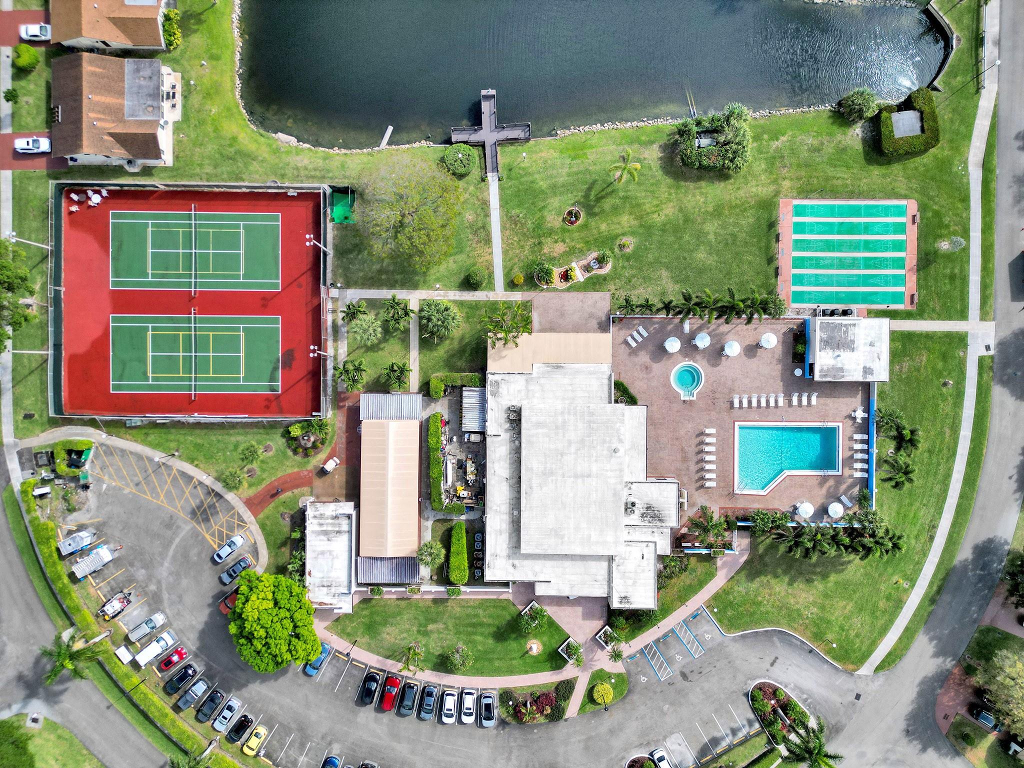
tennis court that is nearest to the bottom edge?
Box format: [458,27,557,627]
[109,308,280,399]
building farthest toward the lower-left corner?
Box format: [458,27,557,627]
[305,499,358,612]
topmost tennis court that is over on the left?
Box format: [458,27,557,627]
[109,203,280,297]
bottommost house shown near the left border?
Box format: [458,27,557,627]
[51,53,167,162]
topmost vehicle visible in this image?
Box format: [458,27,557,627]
[21,24,54,42]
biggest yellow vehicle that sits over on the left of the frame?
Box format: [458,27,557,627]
[243,723,270,756]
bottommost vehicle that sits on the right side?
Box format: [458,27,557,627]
[651,745,676,768]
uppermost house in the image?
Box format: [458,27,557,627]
[54,0,170,52]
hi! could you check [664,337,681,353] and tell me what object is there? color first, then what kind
white umbrella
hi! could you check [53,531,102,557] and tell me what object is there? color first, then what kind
white trailer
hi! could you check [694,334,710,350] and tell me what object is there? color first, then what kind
white umbrella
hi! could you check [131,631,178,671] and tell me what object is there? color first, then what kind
white van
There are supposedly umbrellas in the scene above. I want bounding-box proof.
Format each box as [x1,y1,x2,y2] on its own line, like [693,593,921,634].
[724,340,740,357]
[827,502,843,518]
[760,333,777,349]
[797,502,813,518]
[694,334,710,350]
[664,337,681,353]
